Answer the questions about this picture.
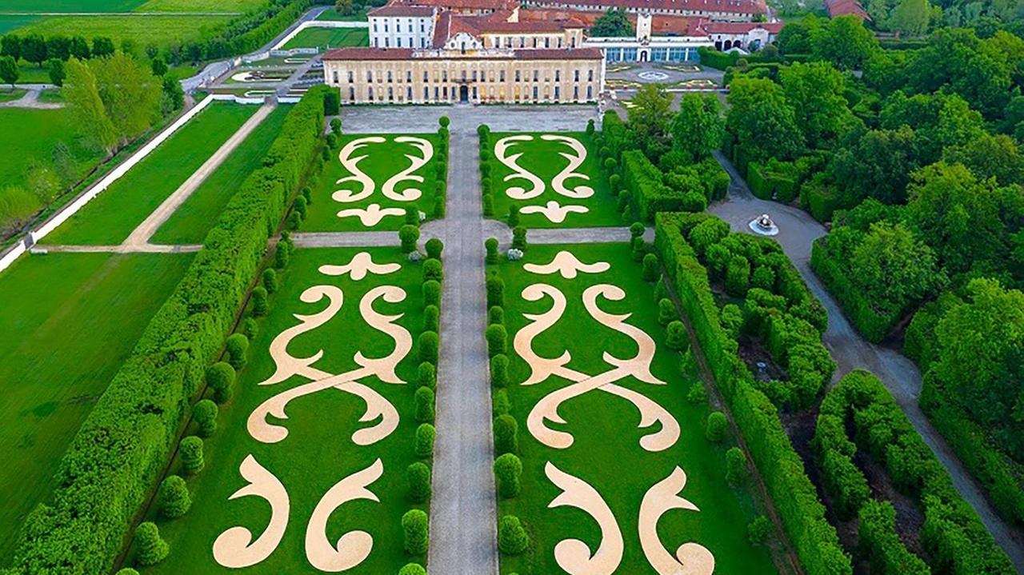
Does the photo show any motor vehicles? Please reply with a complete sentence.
No, no motor vehicle can be seen from above.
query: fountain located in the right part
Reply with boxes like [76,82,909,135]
[748,212,780,233]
